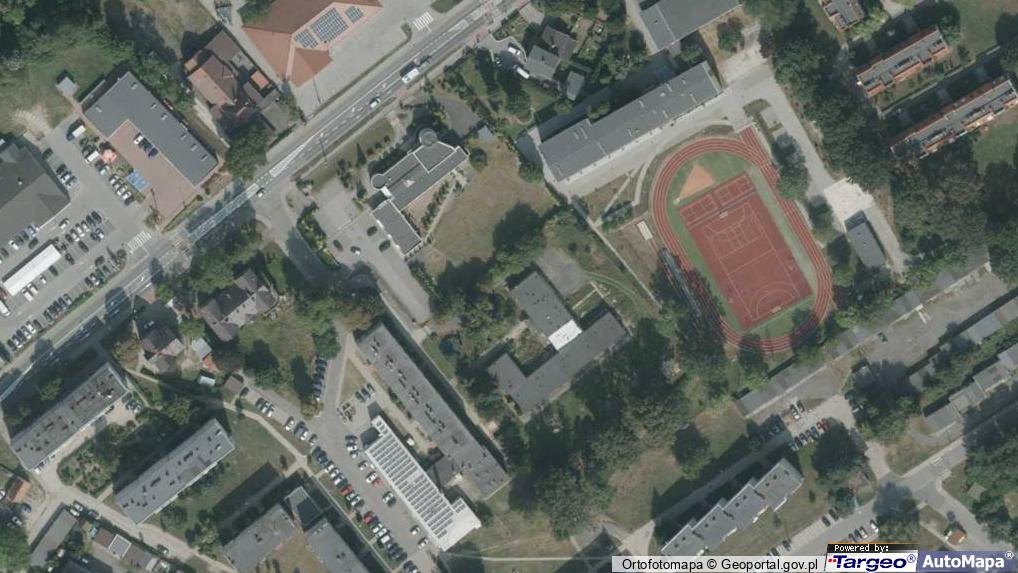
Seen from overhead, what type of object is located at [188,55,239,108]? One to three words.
house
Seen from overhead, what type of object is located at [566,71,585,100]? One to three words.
shed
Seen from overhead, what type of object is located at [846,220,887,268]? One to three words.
building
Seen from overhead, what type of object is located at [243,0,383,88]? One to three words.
building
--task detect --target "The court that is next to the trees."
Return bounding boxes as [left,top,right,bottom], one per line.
[679,171,812,328]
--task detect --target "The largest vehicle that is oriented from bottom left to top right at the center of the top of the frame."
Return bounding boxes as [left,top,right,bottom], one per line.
[400,65,423,84]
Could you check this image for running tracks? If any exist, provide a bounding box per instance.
[649,125,833,354]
